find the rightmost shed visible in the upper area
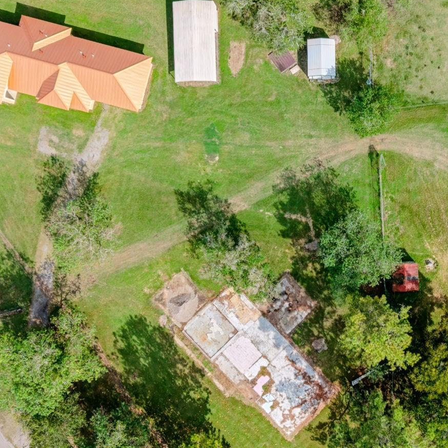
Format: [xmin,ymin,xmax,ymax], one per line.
[308,38,336,82]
